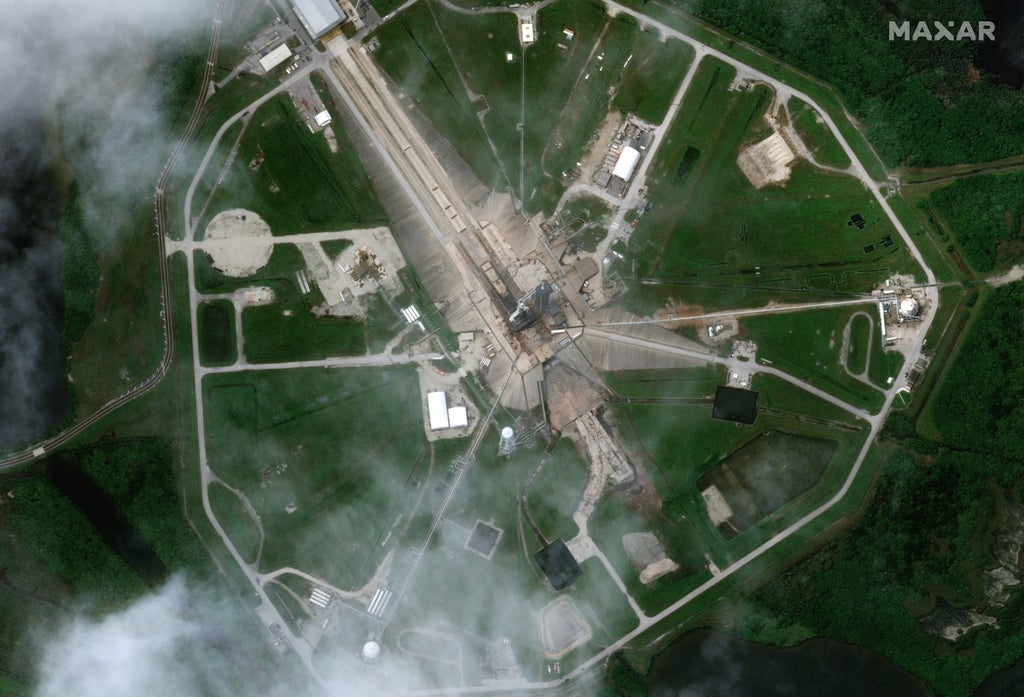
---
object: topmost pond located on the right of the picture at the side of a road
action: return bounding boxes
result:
[701,435,836,537]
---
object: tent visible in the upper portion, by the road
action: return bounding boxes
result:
[613,147,640,181]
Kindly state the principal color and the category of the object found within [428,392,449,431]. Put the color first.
white tent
